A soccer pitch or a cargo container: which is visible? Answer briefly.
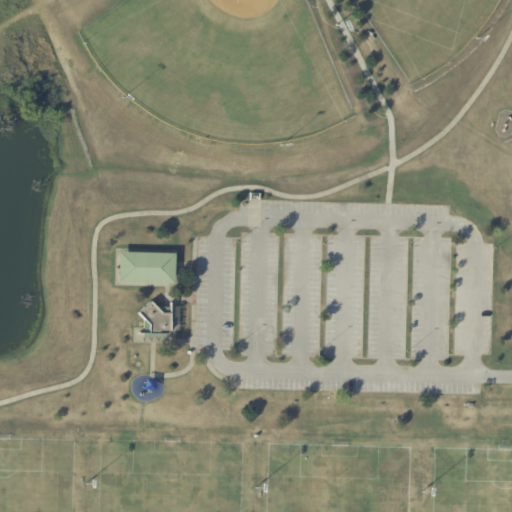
soccer pitch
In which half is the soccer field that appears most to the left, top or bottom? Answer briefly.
bottom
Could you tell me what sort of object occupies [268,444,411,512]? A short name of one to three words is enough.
soccer field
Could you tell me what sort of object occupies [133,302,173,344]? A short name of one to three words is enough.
building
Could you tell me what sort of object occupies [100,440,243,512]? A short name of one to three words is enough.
soccer field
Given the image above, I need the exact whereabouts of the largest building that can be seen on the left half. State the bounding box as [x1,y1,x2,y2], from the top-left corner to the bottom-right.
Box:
[116,249,178,286]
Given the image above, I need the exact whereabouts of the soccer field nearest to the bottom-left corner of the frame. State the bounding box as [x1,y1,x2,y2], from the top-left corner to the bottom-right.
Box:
[0,438,75,512]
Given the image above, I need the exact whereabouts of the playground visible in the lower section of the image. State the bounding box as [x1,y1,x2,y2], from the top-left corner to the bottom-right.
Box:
[132,374,164,402]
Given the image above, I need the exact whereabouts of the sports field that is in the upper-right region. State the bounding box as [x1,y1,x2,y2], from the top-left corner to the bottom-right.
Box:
[370,0,502,84]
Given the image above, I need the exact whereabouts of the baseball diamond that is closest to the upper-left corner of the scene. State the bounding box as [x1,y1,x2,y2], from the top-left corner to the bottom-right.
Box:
[84,0,346,144]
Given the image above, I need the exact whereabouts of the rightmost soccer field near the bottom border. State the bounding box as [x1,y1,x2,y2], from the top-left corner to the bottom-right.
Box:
[433,448,512,512]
